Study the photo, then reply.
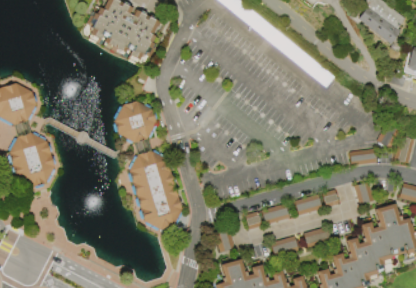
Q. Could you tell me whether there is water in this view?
Yes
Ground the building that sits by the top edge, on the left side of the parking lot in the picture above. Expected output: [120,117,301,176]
[91,0,160,58]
